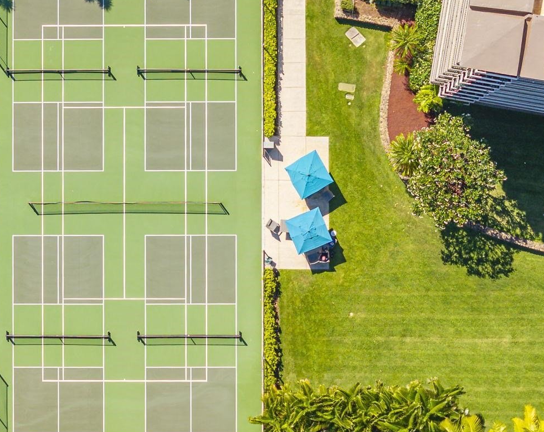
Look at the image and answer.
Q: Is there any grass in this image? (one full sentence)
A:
Yes, there's grass in this view.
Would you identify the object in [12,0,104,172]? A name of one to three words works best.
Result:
sports court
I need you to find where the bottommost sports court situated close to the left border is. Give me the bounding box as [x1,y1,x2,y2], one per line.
[12,235,104,432]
